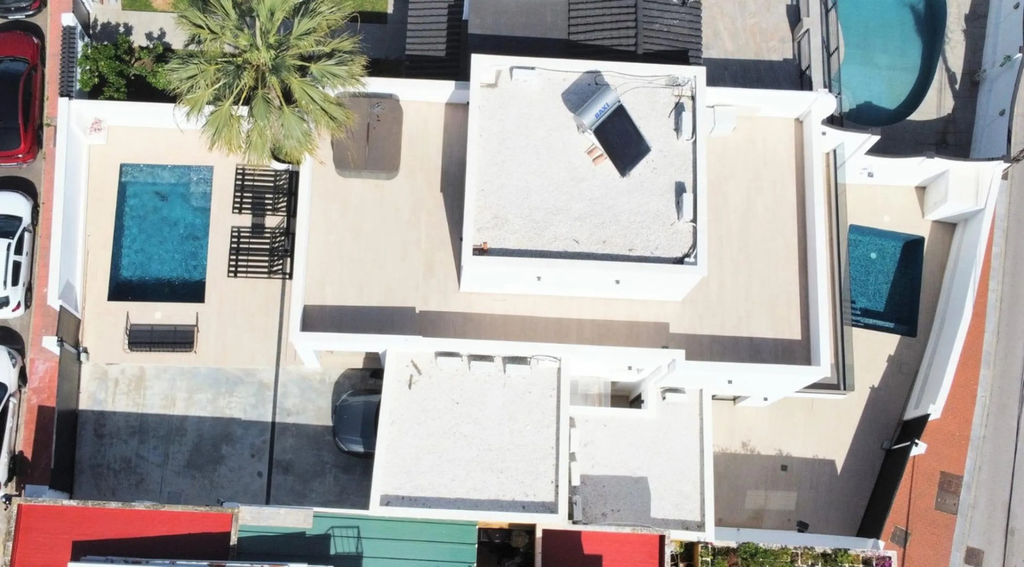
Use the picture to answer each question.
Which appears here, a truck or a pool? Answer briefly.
pool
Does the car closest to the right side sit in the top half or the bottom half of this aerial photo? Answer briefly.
bottom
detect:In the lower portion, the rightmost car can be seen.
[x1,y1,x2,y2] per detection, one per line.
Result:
[332,389,381,458]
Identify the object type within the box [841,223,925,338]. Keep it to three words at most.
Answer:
swimming pool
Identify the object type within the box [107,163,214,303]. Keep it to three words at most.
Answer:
swimming pool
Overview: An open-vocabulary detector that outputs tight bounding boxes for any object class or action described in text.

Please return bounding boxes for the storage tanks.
[577,86,621,130]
